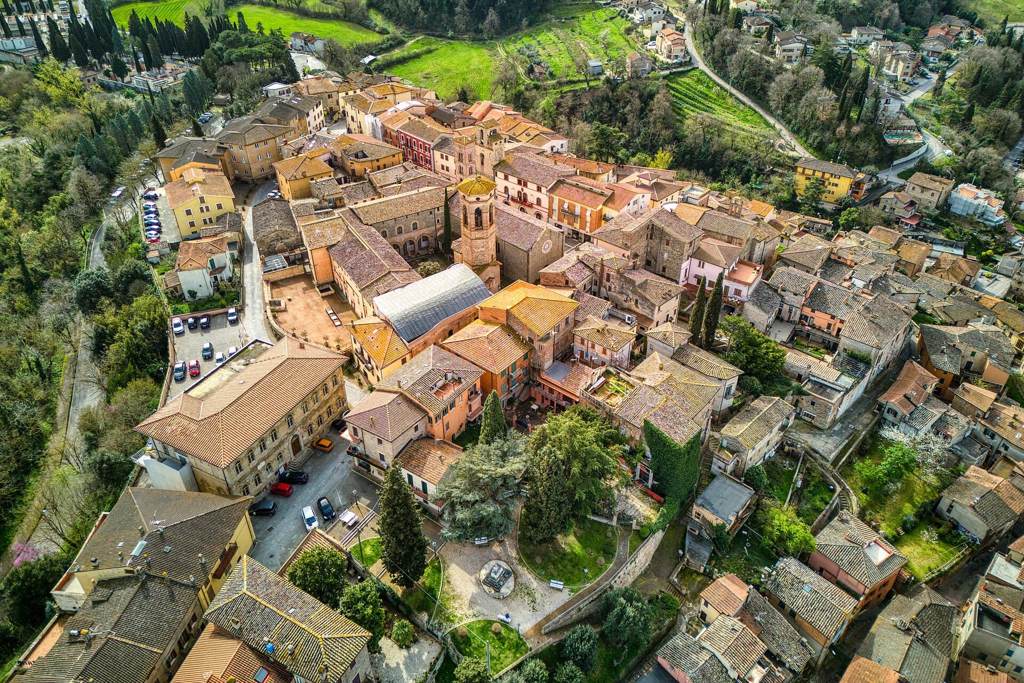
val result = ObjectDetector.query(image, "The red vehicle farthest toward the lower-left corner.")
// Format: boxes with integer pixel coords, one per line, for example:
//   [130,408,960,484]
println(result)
[268,481,293,496]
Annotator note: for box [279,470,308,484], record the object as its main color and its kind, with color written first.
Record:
black car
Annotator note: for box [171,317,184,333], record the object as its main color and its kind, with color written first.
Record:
white vehicle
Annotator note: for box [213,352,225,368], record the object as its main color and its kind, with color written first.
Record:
white vehicle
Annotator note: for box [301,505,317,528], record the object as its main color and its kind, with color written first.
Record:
white car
